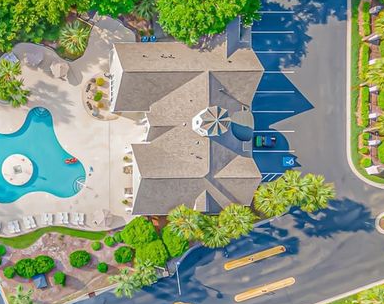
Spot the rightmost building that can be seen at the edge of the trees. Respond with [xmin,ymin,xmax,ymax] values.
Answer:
[106,12,266,214]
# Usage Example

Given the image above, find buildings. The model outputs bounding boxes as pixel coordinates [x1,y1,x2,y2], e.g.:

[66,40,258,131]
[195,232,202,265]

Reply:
[33,274,47,288]
[106,12,266,214]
